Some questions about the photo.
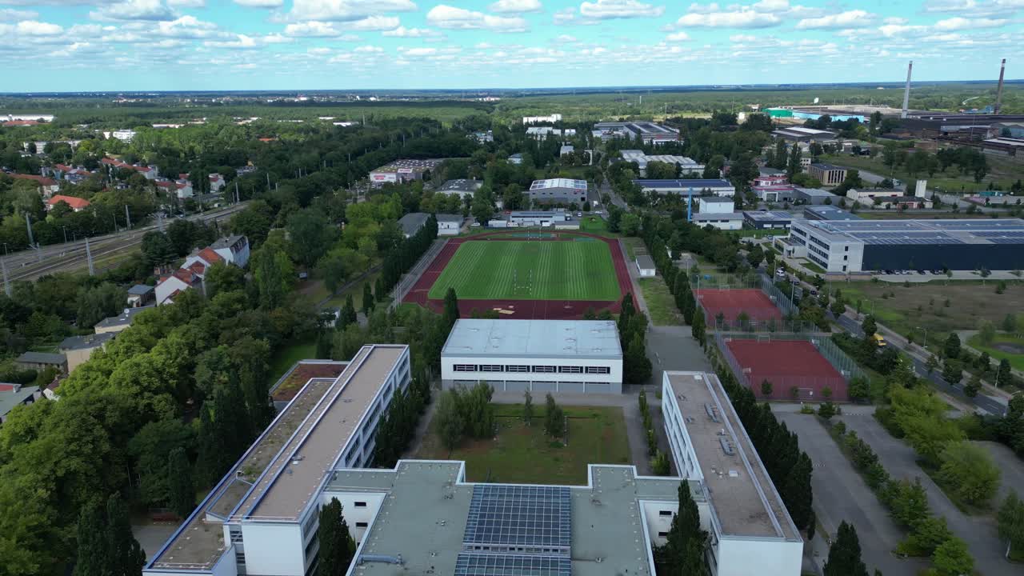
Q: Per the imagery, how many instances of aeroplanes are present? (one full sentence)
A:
The count of aeroplanes is 0.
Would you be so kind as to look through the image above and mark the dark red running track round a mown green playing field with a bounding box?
[399,231,636,321]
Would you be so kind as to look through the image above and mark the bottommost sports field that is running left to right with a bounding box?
[429,241,622,300]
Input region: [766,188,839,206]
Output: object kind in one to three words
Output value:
building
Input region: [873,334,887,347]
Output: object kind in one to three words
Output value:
vehicle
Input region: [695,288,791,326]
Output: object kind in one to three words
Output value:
sports court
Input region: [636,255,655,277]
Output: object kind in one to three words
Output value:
shed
